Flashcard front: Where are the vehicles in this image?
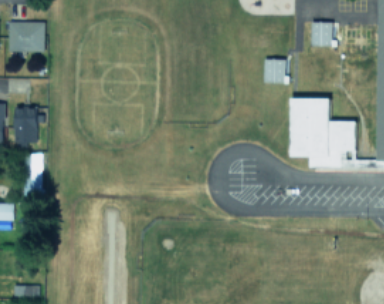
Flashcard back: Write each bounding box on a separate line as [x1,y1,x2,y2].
[276,188,285,198]
[286,190,300,195]
[22,6,27,17]
[12,4,18,16]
